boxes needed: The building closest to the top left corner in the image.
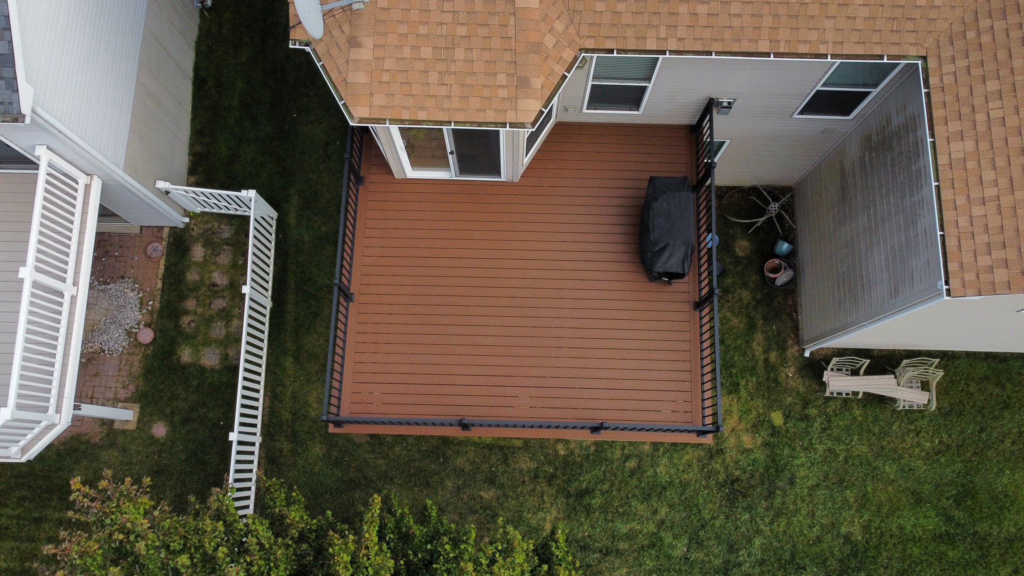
[0,0,199,232]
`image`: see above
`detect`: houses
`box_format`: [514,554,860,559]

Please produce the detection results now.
[286,0,1024,362]
[0,0,199,232]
